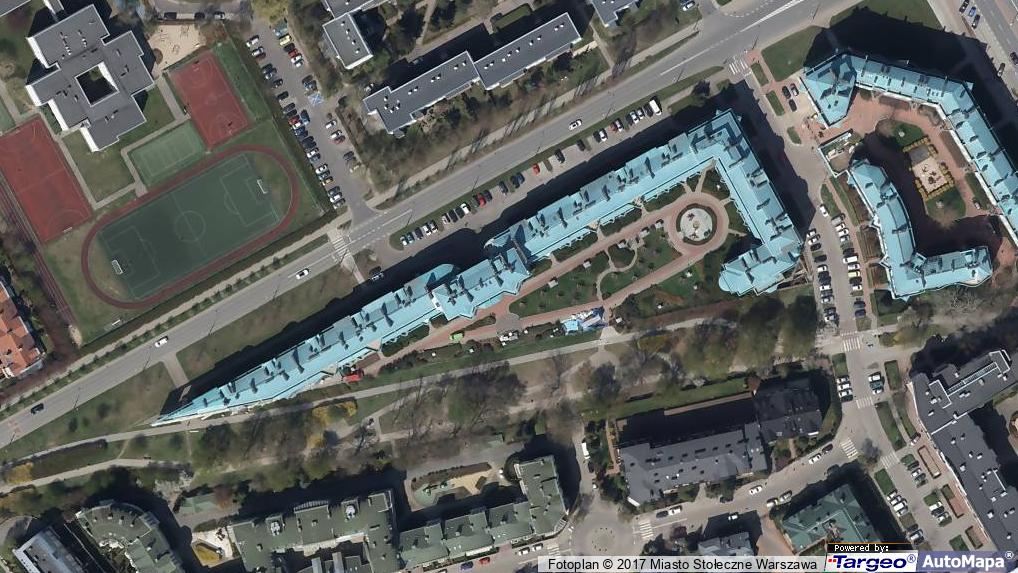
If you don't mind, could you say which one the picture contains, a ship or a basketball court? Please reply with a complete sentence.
Visible in the photo is a basketball court.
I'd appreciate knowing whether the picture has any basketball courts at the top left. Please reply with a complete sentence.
Yes, a basketball court appears at the top left.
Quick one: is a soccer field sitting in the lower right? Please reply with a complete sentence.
No, there's no soccer field to be seen in the lower right.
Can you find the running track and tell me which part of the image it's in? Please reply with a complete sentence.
Look in the left portion of the view to spot the running track.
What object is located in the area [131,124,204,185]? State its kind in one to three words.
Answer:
sports court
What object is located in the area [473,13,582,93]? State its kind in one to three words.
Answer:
building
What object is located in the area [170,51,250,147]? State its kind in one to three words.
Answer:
basketball court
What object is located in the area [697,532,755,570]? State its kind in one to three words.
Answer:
house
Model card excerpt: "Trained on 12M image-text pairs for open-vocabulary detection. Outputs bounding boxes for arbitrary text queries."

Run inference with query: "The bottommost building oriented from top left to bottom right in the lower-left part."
[73,497,189,573]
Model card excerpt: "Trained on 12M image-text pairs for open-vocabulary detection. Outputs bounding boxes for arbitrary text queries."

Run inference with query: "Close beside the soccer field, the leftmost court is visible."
[0,115,92,244]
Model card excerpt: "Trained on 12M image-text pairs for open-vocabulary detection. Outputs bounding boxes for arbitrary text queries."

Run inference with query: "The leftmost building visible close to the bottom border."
[12,528,86,573]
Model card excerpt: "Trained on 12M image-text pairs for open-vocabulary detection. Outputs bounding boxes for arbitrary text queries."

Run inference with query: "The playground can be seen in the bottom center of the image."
[411,463,494,512]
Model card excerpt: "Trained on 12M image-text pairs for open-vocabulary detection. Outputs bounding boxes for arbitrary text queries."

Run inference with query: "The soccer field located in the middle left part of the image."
[98,154,278,298]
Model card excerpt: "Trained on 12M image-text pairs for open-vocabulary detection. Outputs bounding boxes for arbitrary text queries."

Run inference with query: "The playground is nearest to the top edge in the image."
[150,24,203,71]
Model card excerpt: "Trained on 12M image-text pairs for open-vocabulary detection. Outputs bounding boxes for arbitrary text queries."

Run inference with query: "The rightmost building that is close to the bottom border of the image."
[906,349,1018,573]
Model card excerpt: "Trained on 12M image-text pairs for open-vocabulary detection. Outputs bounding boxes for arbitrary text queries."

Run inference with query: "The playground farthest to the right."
[913,157,947,193]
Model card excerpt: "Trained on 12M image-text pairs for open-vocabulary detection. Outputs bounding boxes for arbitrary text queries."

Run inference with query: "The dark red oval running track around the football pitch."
[83,145,299,309]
